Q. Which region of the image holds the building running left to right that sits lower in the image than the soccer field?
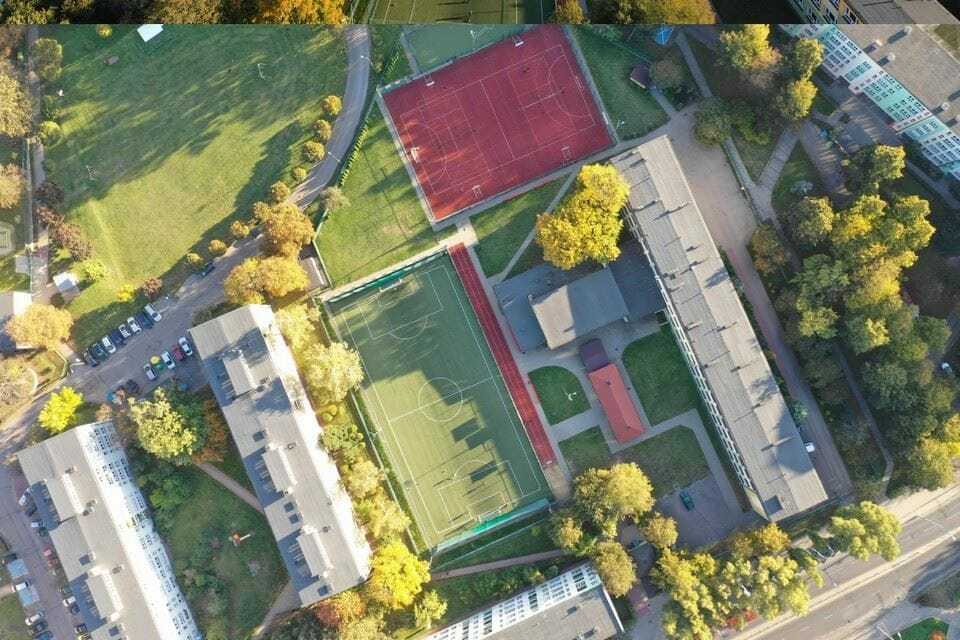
bottom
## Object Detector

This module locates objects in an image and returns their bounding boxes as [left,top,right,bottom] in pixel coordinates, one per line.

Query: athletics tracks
[449,241,556,466]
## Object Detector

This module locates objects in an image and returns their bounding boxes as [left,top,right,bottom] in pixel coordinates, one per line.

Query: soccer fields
[327,253,549,549]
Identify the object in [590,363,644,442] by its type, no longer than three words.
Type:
building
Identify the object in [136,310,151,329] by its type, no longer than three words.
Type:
car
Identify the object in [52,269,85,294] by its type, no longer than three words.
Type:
shed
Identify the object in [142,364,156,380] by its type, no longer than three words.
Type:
vehicle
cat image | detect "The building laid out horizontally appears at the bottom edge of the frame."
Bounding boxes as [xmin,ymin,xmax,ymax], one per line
[445,559,634,640]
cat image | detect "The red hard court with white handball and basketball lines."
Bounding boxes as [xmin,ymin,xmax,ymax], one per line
[382,24,618,222]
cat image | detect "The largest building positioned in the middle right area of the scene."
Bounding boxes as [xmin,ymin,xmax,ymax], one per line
[606,134,822,522]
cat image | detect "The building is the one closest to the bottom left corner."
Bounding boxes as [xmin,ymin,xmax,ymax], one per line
[16,422,198,640]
